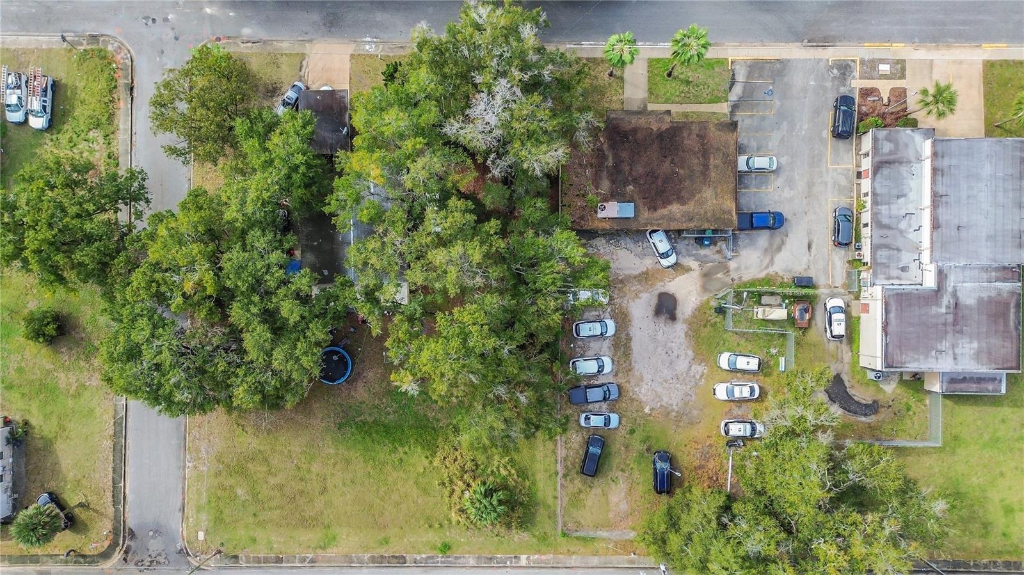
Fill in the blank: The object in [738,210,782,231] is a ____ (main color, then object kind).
blue truck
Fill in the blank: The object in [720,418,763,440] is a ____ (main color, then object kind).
white car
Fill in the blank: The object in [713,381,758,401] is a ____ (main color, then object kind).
white car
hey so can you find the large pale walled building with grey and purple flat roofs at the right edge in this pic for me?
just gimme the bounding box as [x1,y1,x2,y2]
[858,127,1024,395]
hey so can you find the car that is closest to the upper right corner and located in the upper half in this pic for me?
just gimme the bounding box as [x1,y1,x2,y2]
[831,96,856,141]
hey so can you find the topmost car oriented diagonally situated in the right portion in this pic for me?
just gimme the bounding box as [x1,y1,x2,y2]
[645,229,678,271]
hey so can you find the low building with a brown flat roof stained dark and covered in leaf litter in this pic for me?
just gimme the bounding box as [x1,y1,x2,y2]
[566,110,738,229]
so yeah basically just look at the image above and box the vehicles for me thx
[569,383,619,404]
[645,229,678,271]
[738,210,782,231]
[40,488,74,529]
[822,296,846,340]
[569,355,613,376]
[713,381,758,401]
[720,418,763,440]
[577,286,608,307]
[725,439,744,448]
[716,352,761,372]
[579,411,619,431]
[652,450,672,494]
[27,75,56,130]
[572,318,615,339]
[831,96,856,141]
[2,70,33,124]
[738,154,776,174]
[319,85,335,90]
[275,77,309,119]
[580,433,604,477]
[831,206,853,248]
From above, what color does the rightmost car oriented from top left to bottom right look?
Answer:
white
